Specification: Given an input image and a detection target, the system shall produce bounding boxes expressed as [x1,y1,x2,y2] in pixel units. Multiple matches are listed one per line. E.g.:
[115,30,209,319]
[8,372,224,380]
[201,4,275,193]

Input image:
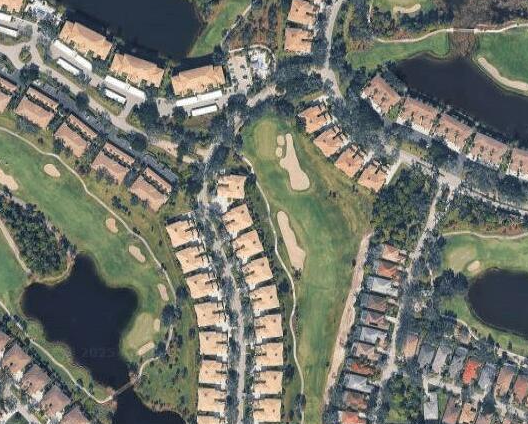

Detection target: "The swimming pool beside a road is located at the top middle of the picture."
[251,51,271,77]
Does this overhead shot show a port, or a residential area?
residential area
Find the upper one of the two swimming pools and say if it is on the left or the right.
left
